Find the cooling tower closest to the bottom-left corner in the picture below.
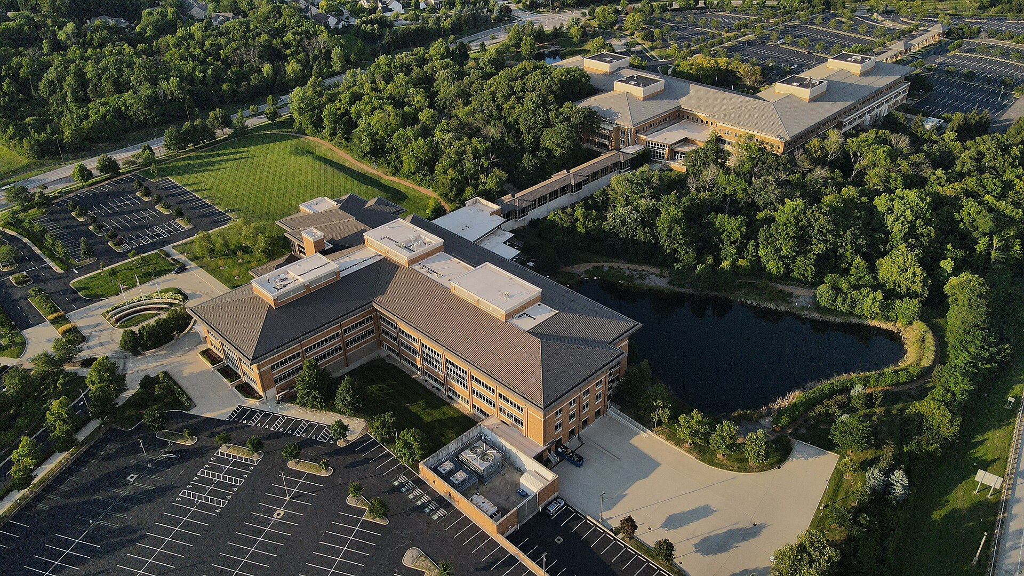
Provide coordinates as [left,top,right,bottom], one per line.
[463,439,513,488]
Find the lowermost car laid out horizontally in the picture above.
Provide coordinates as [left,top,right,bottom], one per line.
[159,447,183,461]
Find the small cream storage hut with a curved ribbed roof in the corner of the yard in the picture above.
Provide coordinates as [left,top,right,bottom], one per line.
[521,473,546,497]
